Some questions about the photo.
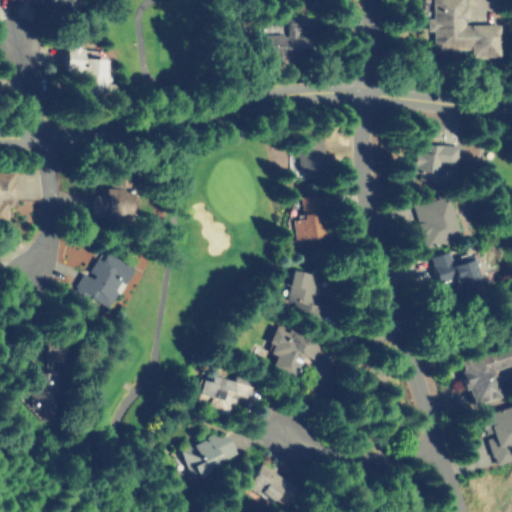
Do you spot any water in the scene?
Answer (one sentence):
No, there is no water in the image.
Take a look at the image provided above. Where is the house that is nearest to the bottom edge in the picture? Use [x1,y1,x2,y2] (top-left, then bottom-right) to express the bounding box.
[248,459,290,503]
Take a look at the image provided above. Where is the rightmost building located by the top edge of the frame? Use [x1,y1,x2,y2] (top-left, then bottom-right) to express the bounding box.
[429,0,504,58]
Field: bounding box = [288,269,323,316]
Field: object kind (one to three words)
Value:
house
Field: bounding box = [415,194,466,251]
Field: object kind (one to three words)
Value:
house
